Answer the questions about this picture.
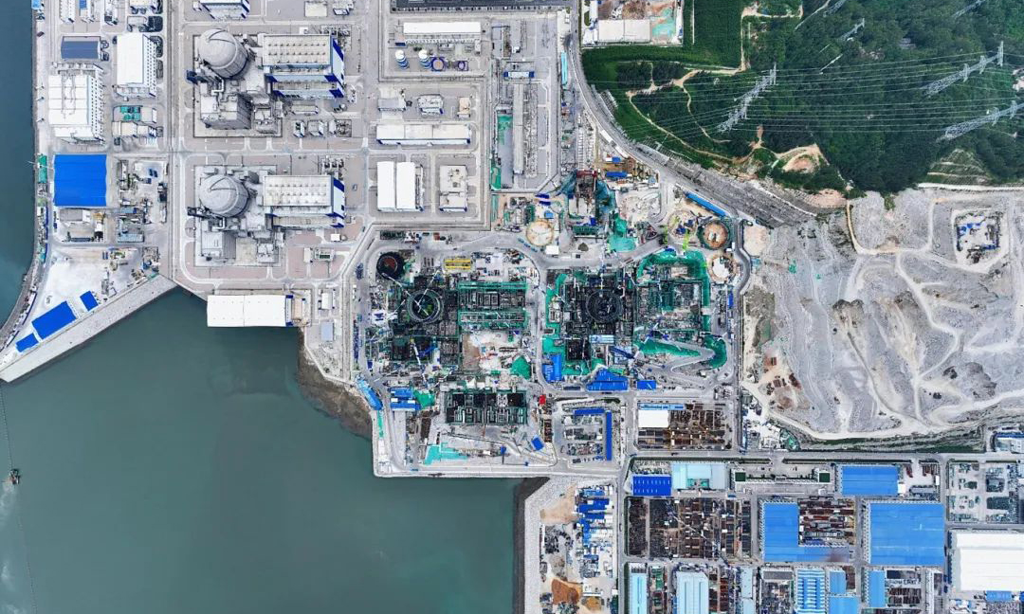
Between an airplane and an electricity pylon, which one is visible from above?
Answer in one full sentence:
This aerial view contains an electricity pylon.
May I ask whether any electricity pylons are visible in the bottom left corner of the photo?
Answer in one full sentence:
No, no electricity pylon can be made out in the bottom left corner of the photo.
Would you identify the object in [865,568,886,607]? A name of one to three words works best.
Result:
building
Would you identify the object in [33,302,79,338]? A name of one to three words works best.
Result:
shed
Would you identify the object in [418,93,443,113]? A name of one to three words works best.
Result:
building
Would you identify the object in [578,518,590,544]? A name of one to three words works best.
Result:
shed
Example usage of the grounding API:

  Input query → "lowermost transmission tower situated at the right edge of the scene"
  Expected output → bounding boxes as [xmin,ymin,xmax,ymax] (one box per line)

[939,100,1009,142]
